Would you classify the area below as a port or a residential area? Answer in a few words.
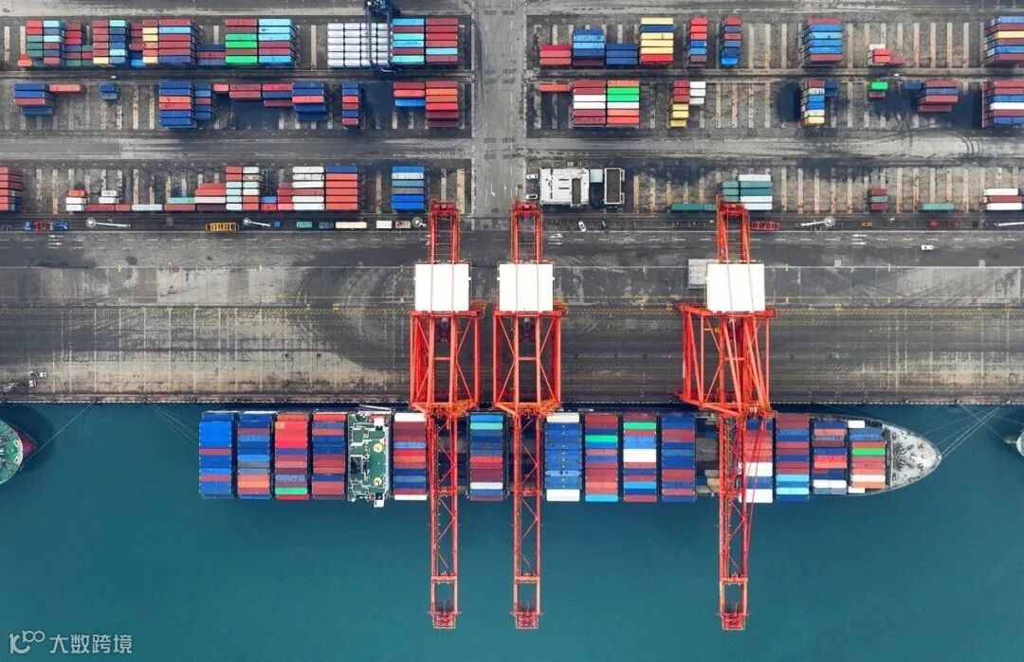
port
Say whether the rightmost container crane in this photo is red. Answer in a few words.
Yes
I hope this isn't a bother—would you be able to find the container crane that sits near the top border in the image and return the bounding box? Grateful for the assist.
[366,0,402,78]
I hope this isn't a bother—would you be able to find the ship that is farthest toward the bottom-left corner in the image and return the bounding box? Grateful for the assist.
[0,419,42,483]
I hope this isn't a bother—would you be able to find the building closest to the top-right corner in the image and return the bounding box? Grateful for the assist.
[603,168,624,205]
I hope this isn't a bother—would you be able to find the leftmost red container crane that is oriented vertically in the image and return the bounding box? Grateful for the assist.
[410,198,490,628]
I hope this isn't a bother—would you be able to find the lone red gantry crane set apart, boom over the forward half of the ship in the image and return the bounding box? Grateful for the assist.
[673,198,773,628]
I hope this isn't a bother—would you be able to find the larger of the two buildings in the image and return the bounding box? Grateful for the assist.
[540,162,589,204]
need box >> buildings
[603,168,624,205]
[540,162,589,204]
